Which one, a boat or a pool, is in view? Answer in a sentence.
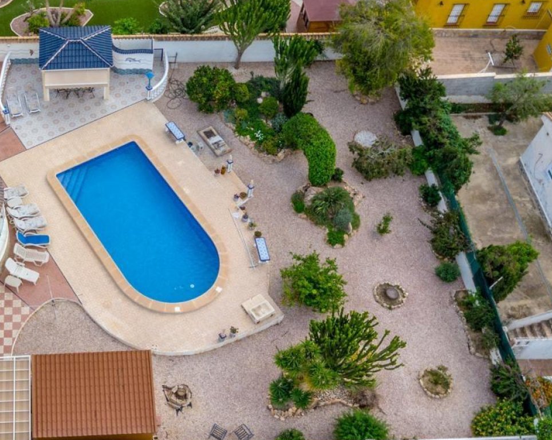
There is a pool in the scene.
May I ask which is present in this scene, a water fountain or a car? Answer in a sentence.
I can see a water fountain in this picture.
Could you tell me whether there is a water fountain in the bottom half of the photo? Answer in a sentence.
Yes, the scene does show a water fountain in the bottom half of the photo.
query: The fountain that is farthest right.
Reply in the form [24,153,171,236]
[372,281,408,310]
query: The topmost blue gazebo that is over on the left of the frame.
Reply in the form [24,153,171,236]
[38,24,116,100]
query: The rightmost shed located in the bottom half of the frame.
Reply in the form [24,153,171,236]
[31,343,158,440]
